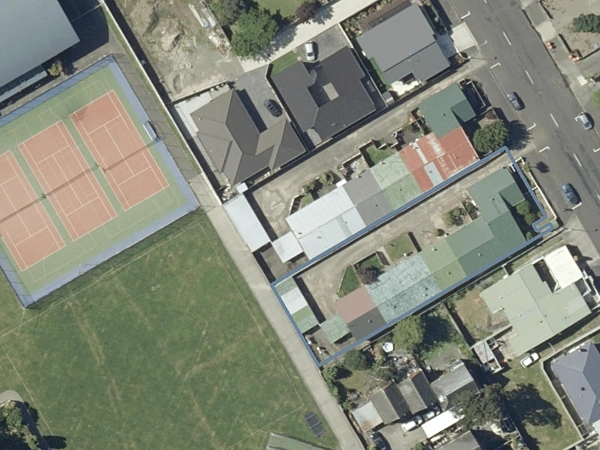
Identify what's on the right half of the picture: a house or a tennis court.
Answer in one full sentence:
What appears on the right half of the picture is a house.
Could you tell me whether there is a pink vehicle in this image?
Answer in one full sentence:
No, I can't see a single pink vehicle in this photo.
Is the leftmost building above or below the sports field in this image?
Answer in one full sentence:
In the image, the leftmost building appears above the sports field.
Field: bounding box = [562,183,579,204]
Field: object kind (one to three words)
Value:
car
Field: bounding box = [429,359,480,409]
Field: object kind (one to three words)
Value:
house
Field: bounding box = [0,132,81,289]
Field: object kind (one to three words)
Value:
tennis court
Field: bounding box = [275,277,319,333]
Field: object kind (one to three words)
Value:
building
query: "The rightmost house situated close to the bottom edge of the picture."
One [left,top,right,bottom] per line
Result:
[551,339,600,431]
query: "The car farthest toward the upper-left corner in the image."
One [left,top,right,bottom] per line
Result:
[265,97,281,118]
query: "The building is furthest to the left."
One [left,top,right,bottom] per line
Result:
[0,0,81,107]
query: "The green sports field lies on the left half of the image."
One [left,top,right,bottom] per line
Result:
[0,208,344,450]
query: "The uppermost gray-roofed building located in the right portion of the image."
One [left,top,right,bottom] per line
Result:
[357,4,450,85]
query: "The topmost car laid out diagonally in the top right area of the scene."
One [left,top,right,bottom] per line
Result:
[507,90,524,111]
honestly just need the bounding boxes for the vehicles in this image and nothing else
[519,351,541,368]
[305,41,315,61]
[421,405,441,421]
[265,97,281,118]
[507,90,524,111]
[400,416,421,432]
[577,111,592,130]
[562,183,579,204]
[371,429,387,450]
